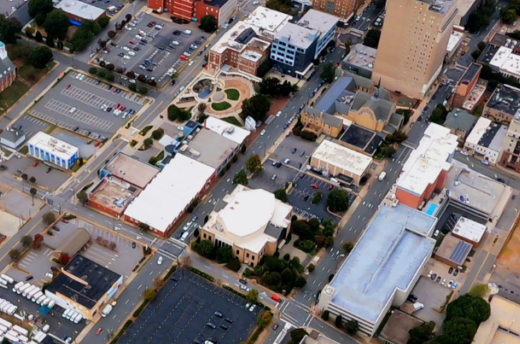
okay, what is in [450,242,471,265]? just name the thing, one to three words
solar panel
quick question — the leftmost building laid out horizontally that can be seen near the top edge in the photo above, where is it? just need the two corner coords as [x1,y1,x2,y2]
[54,0,105,24]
